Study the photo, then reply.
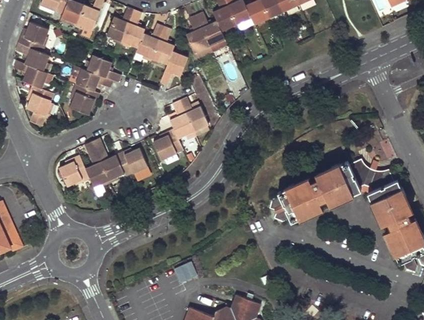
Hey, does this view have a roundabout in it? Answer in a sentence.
Yes, the photo shows a roundabout.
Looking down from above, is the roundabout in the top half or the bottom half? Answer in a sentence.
It is in the bottom half that the roundabout appears.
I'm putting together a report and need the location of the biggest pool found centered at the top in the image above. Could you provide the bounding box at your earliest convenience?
[222,60,238,82]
